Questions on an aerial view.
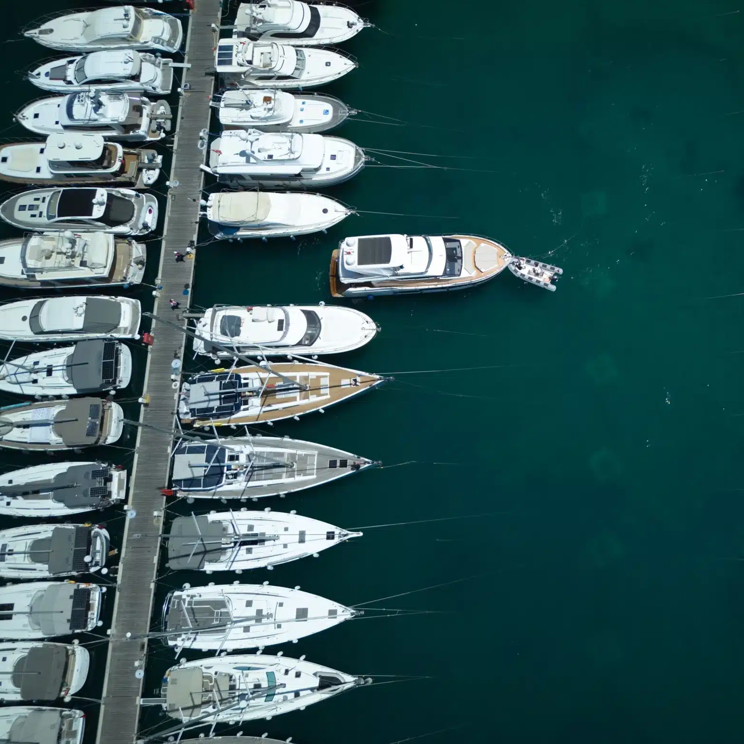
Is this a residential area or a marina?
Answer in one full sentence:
The picture captures a marina.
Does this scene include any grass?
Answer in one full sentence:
No, there's no grass in this view.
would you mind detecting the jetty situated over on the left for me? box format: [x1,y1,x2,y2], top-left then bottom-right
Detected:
[97,0,226,744]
